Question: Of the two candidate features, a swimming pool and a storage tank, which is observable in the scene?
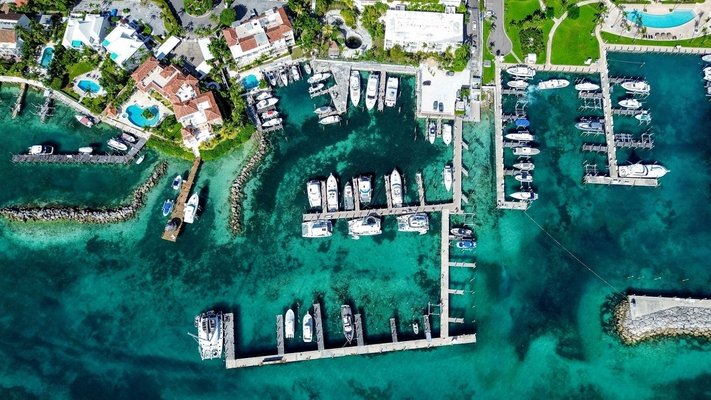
swimming pool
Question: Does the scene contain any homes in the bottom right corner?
No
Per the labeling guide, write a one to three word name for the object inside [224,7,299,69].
house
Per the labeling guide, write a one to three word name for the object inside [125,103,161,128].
swimming pool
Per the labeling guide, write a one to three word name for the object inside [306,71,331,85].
boat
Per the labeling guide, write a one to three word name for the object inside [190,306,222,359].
boat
